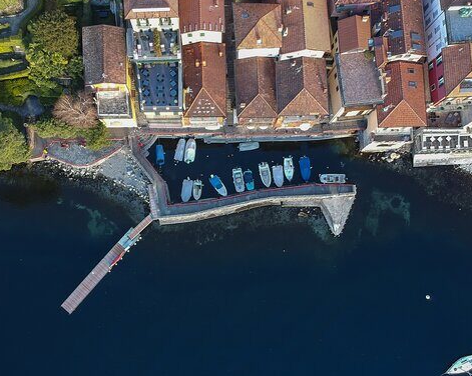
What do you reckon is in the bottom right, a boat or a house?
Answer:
boat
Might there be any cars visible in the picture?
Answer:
No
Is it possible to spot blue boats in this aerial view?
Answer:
Yes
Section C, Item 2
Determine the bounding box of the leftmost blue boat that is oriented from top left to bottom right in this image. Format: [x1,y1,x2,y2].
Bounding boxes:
[210,176,226,196]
